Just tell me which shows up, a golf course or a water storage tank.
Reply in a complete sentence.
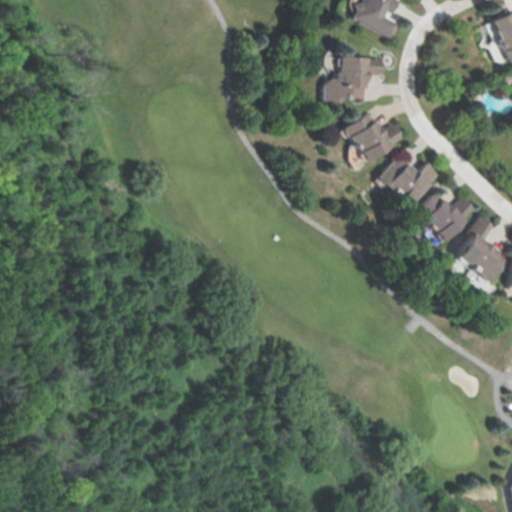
It is a golf course that can be seen here.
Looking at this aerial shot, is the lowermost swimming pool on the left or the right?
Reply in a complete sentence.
The lowermost swimming pool is on the right side of the image.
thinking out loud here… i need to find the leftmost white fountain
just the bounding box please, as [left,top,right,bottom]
[379,51,397,70]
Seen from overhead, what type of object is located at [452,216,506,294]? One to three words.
house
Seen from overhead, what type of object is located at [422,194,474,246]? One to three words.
house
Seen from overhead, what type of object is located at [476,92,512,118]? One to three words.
swimming pool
